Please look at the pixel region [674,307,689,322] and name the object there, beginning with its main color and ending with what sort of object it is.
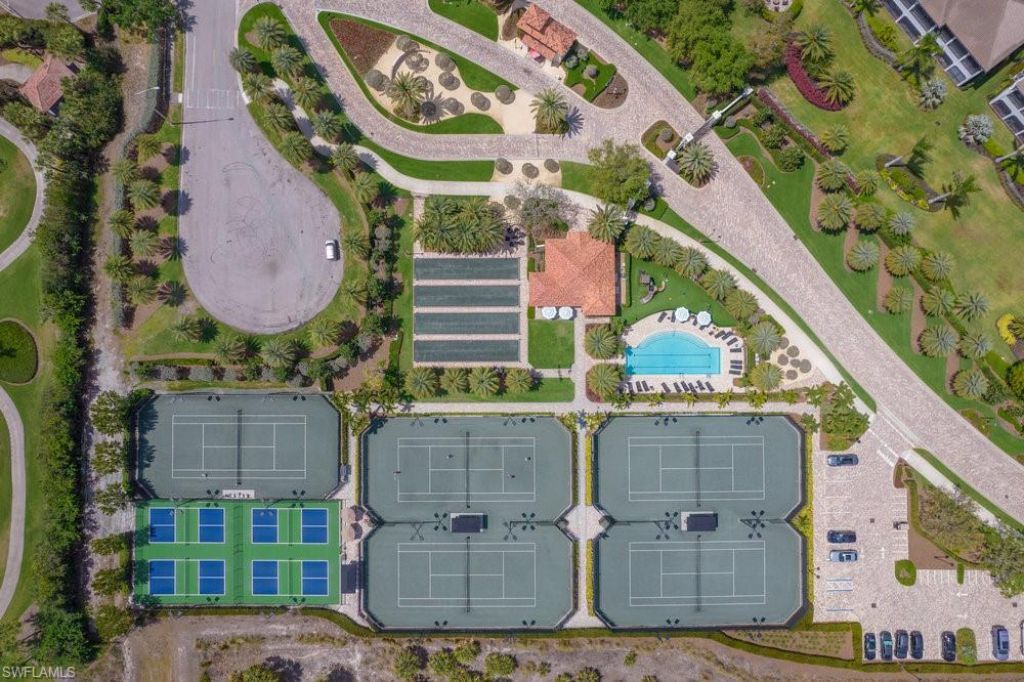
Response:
white umbrella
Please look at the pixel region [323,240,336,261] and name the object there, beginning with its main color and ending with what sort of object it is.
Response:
white vehicle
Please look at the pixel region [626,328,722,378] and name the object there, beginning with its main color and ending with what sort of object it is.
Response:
blue swimming pool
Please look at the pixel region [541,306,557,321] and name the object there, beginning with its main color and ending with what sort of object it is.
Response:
white umbrella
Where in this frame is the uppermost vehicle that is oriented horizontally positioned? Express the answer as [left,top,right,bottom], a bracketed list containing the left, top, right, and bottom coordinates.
[827,454,858,467]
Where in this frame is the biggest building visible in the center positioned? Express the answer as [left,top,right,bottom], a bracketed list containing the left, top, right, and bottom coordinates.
[529,231,616,317]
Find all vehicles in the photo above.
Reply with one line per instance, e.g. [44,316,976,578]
[323,240,336,261]
[894,629,910,659]
[991,626,1010,661]
[863,632,877,660]
[827,454,858,467]
[909,630,925,660]
[879,630,894,660]
[827,530,857,544]
[829,550,858,563]
[941,631,957,661]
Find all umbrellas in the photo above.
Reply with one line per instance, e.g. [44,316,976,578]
[339,524,355,540]
[541,306,557,321]
[696,311,711,326]
[558,306,573,321]
[339,505,355,521]
[529,51,539,61]
[674,307,689,322]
